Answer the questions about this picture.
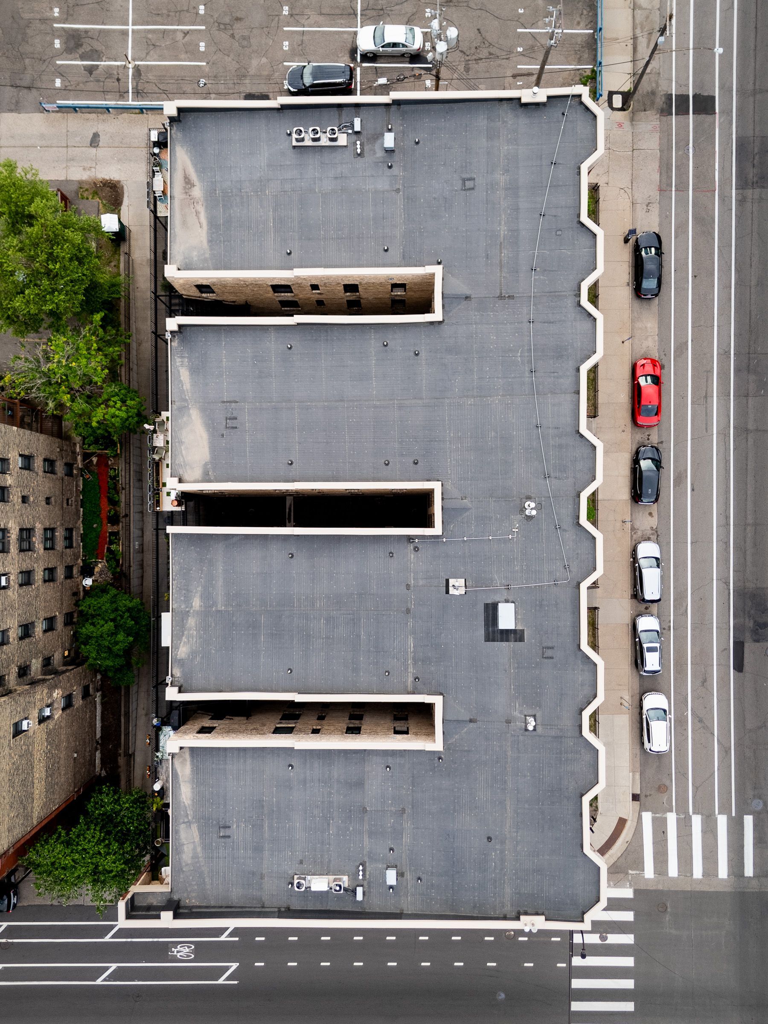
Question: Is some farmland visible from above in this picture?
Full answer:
No, there is no farmland in the image.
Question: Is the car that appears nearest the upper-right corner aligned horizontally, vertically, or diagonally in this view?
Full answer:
The car that appears nearest the upper-right corner has been laid out vertically relative to the frame.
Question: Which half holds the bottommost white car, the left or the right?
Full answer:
The bottommost white car appears in the right half of the scene.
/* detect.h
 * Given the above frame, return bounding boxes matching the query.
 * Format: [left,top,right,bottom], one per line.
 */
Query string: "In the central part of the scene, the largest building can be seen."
[118,80,607,937]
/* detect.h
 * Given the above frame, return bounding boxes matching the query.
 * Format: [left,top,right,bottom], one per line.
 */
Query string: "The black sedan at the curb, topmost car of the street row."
[633,230,666,299]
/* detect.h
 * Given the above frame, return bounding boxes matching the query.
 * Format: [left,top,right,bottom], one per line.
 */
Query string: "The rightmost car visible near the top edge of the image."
[356,20,423,57]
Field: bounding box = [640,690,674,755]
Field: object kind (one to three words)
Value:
car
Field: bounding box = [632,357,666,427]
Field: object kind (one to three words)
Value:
car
